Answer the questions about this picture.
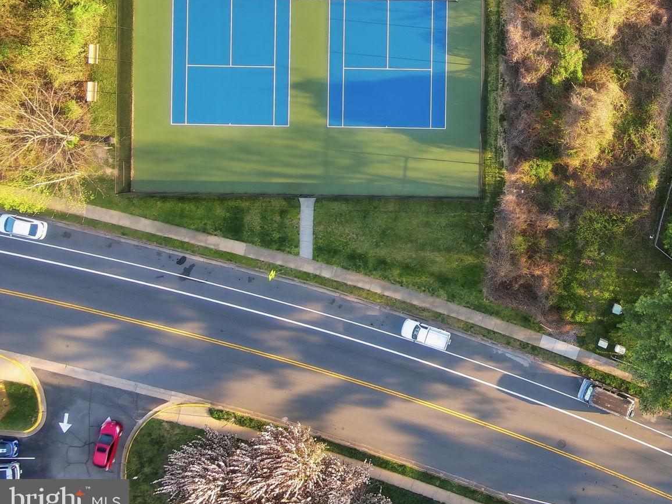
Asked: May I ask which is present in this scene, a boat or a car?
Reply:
car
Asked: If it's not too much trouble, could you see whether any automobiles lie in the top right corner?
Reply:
No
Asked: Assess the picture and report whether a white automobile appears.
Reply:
Yes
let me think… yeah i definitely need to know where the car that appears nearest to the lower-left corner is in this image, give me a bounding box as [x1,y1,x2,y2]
[0,460,23,483]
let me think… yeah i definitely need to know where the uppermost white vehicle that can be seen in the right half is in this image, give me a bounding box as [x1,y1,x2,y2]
[399,317,455,352]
